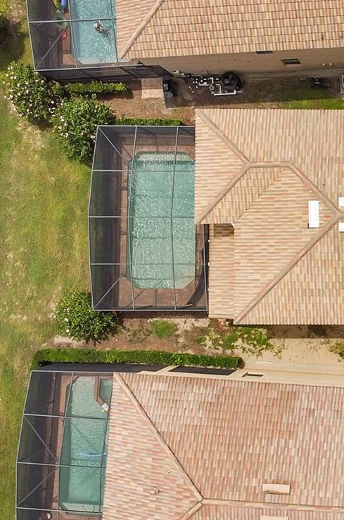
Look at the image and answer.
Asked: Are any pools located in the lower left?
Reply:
Yes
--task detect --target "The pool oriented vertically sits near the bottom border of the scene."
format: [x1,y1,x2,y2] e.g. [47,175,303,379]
[55,374,111,520]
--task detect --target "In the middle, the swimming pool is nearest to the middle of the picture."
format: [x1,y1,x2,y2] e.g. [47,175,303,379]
[121,146,201,294]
